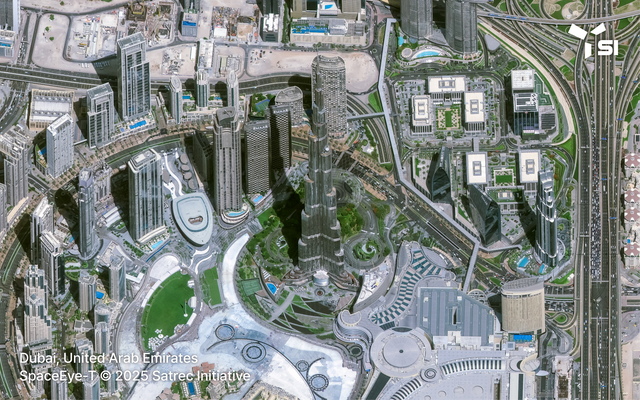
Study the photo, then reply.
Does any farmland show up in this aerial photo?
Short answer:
No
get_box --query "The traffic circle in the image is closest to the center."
[348,232,391,266]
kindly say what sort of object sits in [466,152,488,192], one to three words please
building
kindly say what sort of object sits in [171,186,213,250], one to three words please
building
